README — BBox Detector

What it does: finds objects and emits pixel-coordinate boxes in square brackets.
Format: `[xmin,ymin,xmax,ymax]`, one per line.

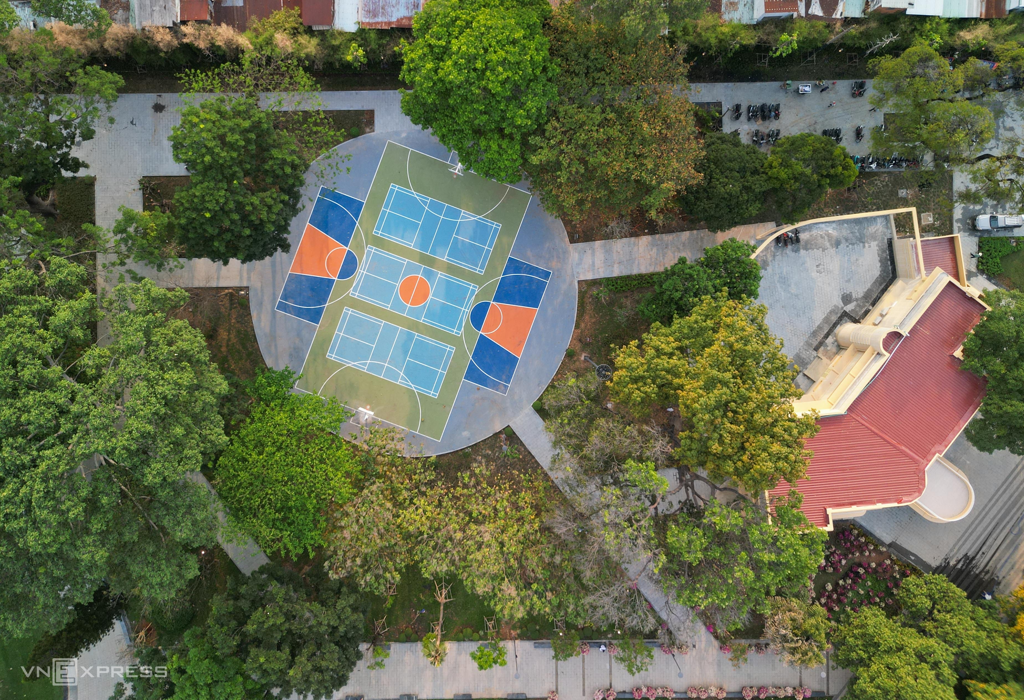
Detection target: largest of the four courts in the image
[248,127,579,459]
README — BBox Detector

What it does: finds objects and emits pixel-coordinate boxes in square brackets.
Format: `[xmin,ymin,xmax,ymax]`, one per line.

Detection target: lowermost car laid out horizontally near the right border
[970,211,1023,233]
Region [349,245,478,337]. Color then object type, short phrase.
blue sports court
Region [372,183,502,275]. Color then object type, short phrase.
blue sports court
